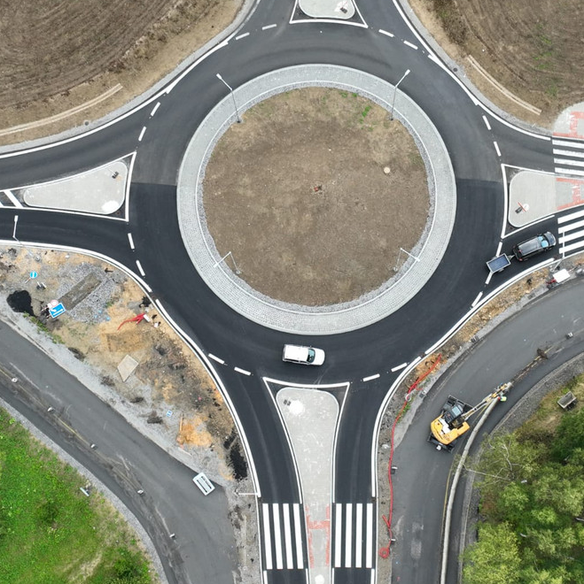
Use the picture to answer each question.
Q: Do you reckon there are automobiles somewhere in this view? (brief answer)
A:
Yes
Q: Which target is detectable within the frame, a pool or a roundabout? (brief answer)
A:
roundabout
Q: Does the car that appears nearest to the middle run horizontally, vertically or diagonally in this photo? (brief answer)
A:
horizontally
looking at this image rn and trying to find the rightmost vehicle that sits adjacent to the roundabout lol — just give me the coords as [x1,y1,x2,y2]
[511,232,556,262]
